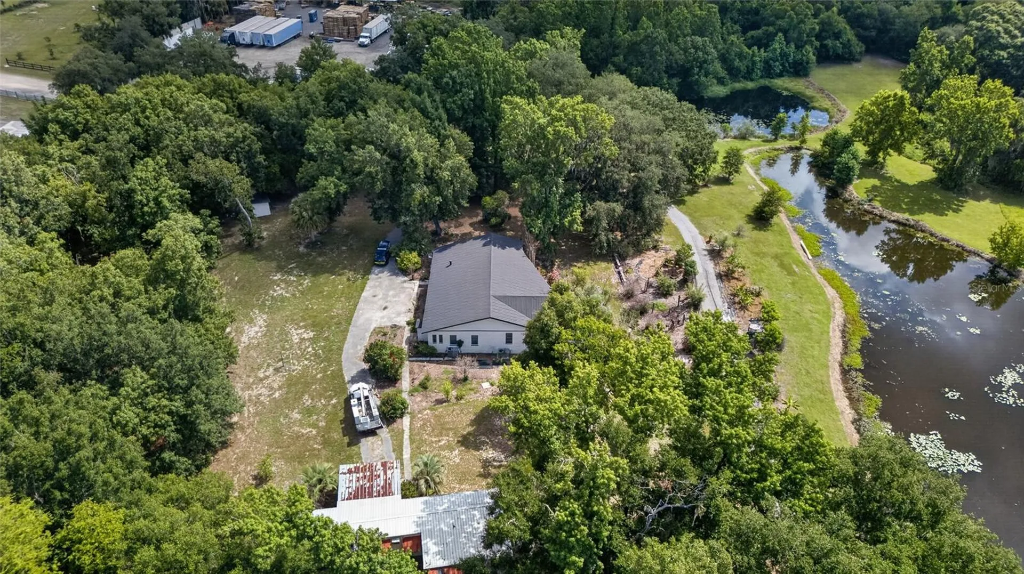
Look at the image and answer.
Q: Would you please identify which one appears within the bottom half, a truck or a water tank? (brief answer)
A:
truck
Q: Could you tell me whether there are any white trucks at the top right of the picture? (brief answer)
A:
No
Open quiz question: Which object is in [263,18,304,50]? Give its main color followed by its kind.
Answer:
blue trailer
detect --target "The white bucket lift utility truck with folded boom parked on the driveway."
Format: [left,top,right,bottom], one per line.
[354,377,387,435]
